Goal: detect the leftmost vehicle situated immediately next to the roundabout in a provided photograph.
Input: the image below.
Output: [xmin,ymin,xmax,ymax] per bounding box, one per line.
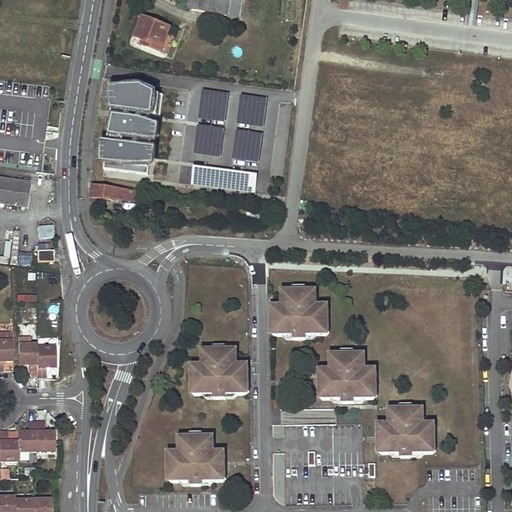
[66,230,80,275]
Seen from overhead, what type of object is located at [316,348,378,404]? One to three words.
building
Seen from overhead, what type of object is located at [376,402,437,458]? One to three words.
building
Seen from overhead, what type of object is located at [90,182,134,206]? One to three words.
house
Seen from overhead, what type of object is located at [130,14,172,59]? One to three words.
house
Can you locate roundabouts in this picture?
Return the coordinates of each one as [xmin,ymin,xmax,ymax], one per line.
[66,259,170,363]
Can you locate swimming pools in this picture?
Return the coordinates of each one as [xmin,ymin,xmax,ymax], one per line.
[232,46,243,59]
[46,304,60,315]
